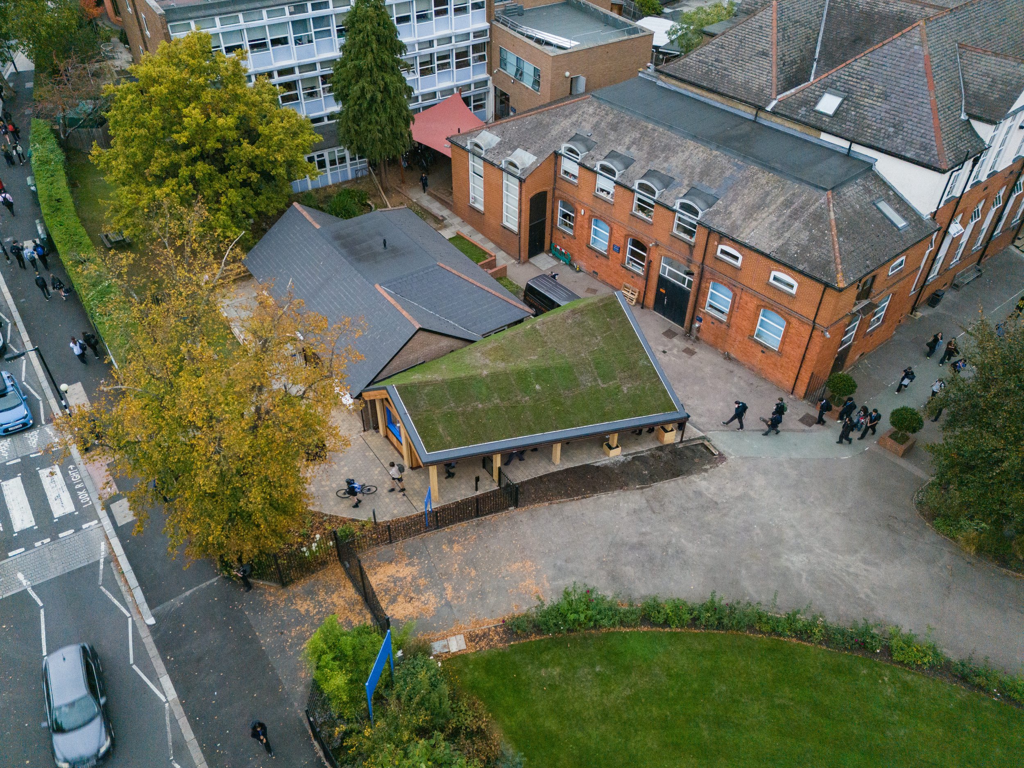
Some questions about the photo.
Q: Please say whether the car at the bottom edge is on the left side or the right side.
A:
left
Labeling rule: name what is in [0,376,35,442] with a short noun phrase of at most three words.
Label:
car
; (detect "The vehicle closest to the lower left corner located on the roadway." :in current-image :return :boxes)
[38,634,117,768]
